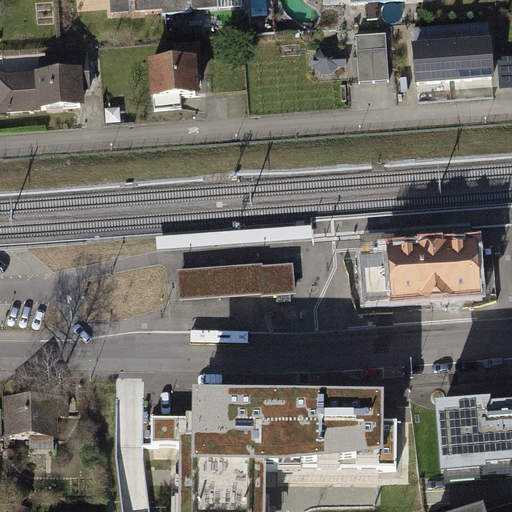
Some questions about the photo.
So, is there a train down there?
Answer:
No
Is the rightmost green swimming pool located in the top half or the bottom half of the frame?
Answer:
top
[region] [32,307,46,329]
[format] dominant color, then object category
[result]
white vehicle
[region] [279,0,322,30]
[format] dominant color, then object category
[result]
green swimming pool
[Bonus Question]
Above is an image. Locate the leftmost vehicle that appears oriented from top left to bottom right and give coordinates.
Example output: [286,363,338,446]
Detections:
[73,321,92,342]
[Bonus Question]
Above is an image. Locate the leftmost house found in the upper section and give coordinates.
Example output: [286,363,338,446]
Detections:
[0,55,90,113]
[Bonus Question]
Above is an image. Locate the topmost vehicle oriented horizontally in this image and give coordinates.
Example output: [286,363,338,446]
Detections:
[190,330,250,345]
